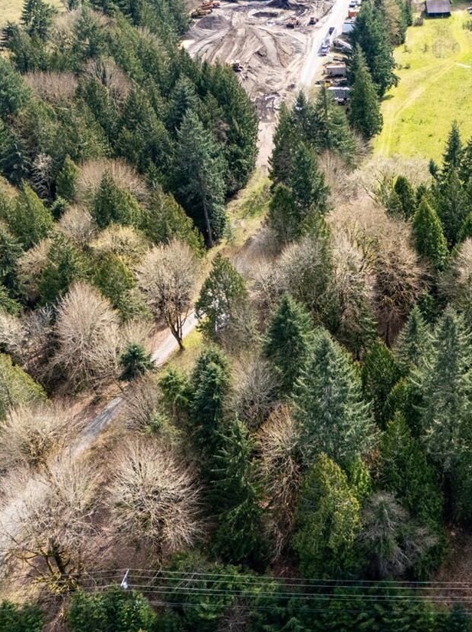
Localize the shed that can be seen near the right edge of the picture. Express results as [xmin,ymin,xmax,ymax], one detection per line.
[426,1,453,17]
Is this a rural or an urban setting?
rural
